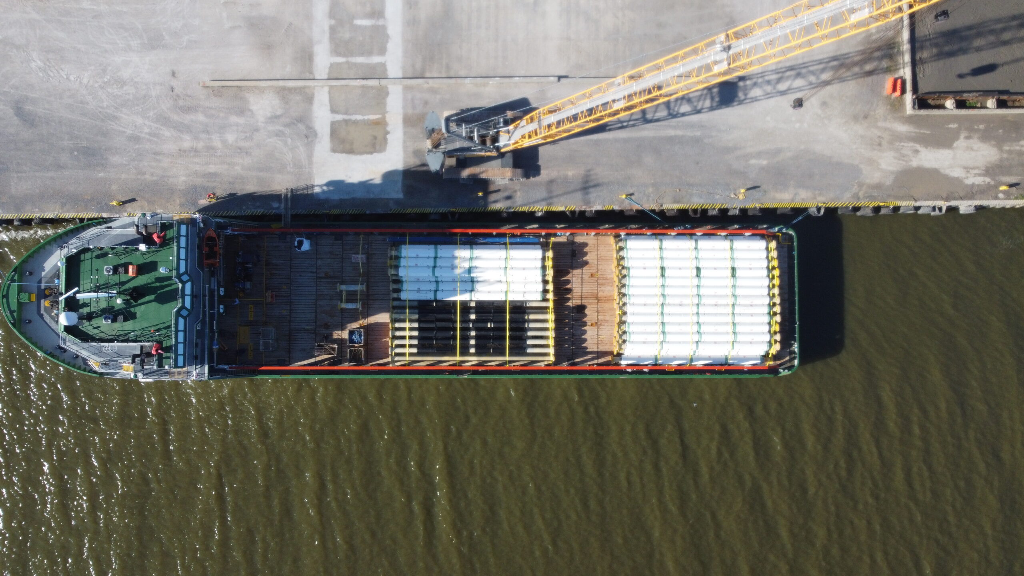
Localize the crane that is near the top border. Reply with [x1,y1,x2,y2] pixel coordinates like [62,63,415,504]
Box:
[425,0,973,182]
